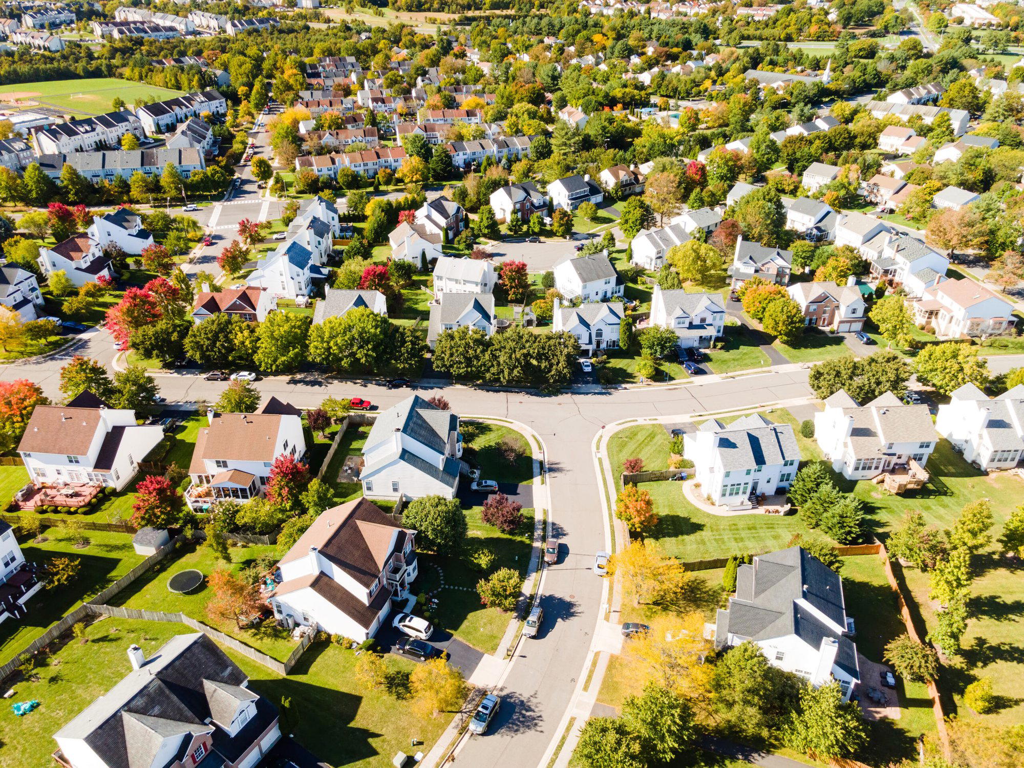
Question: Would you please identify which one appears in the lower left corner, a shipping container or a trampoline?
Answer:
trampoline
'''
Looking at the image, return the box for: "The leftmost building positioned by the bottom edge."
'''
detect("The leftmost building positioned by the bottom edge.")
[42,634,289,768]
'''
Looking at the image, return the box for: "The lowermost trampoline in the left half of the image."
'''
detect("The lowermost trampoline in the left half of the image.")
[168,571,202,598]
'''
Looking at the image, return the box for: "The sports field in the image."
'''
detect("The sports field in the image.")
[0,80,186,124]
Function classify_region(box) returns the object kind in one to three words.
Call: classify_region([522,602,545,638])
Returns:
car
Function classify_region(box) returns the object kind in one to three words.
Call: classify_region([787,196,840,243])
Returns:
house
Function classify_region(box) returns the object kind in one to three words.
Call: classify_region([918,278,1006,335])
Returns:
house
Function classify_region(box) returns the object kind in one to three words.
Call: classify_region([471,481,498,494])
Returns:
vehicle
